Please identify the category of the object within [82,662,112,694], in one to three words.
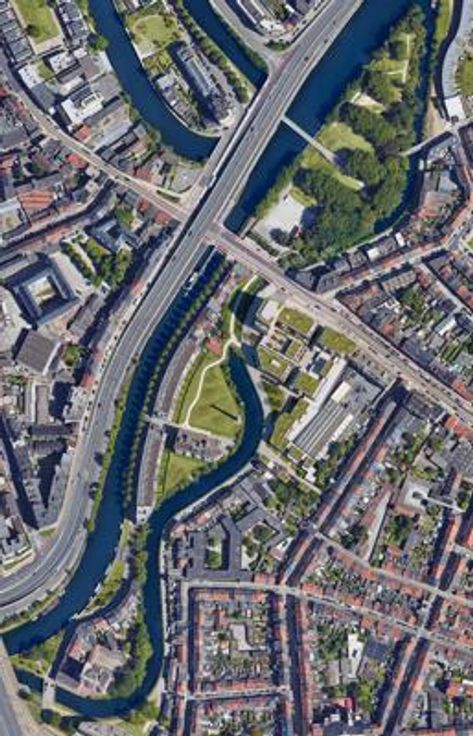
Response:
building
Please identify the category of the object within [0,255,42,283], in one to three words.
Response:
building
